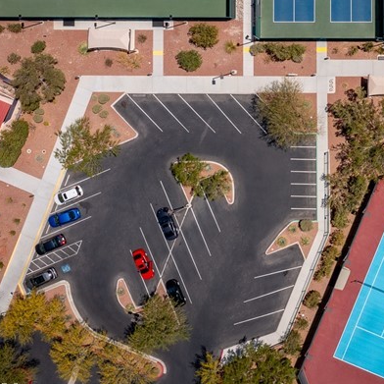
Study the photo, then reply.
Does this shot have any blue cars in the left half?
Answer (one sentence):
Yes, looking in the left half, one can make out a blue car.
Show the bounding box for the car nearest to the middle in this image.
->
[156,206,179,240]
